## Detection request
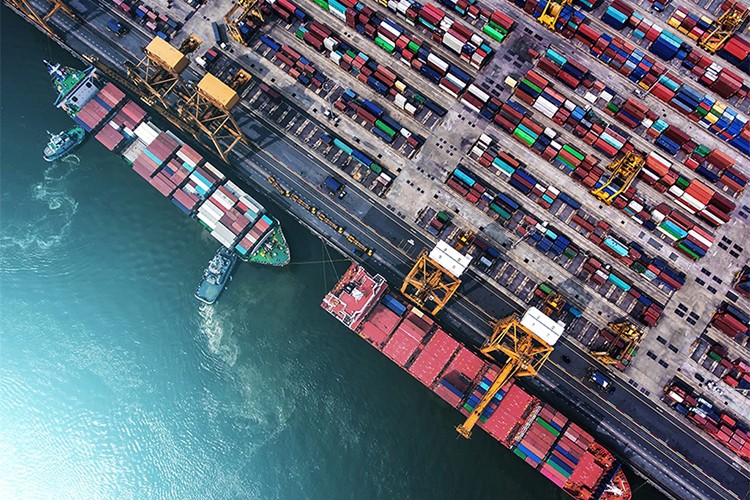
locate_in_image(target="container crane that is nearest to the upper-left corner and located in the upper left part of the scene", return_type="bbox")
[15,0,83,43]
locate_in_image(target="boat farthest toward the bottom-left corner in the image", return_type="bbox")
[194,251,238,306]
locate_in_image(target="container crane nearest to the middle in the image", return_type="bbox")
[396,228,478,319]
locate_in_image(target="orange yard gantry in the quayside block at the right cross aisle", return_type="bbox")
[590,316,655,371]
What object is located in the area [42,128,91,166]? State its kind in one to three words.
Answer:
boat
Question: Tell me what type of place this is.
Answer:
port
